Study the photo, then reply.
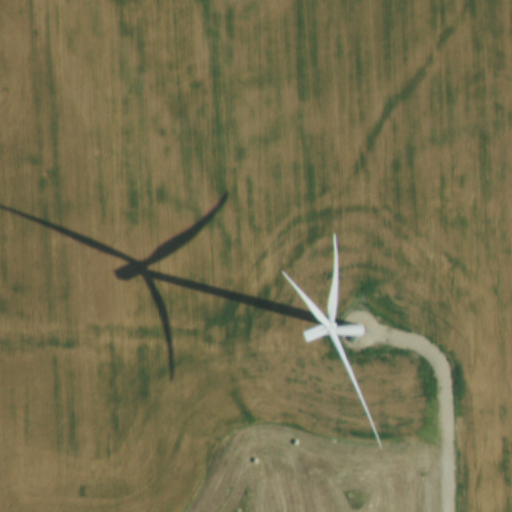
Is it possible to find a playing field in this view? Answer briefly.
No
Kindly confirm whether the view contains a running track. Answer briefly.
No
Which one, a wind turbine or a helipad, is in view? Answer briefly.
wind turbine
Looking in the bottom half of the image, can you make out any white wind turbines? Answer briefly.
Yes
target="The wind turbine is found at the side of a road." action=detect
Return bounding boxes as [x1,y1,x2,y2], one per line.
[280,233,380,448]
